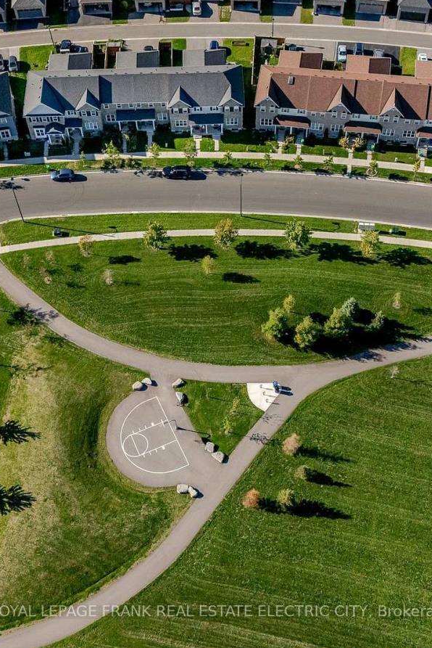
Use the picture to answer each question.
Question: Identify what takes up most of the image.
grass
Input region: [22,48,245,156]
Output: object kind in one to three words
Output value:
house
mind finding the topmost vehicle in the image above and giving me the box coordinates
[190,0,203,18]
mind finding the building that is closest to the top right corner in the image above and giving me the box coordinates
[397,0,432,19]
